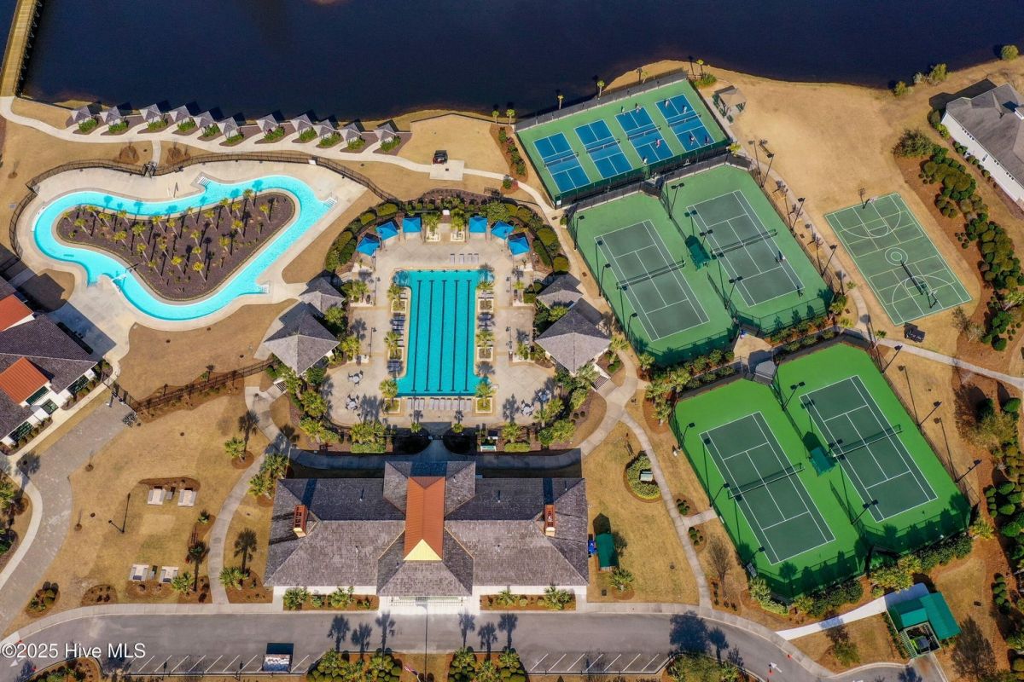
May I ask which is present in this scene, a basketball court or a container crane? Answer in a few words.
basketball court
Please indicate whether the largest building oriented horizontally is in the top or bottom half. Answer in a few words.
bottom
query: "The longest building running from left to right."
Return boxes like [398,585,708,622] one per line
[264,461,589,611]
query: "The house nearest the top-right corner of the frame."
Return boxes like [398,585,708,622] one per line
[941,79,1024,220]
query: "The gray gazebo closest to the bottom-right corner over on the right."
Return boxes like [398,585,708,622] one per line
[749,361,778,391]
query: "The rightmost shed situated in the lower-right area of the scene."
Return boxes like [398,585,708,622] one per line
[887,592,964,657]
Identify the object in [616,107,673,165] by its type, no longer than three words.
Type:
sports court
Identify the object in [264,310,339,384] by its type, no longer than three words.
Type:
building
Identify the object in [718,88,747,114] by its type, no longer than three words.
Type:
gazebo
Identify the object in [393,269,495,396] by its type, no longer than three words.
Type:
swimming pool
